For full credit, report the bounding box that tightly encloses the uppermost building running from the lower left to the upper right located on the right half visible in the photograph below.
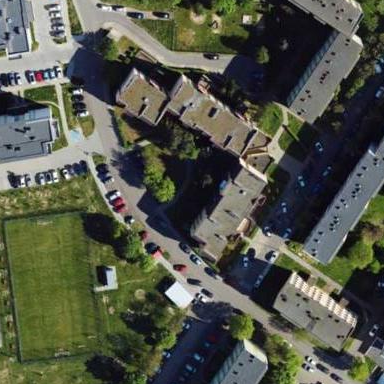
[287,29,363,123]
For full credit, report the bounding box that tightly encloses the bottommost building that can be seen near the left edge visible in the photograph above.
[0,111,53,161]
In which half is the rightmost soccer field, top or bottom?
bottom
